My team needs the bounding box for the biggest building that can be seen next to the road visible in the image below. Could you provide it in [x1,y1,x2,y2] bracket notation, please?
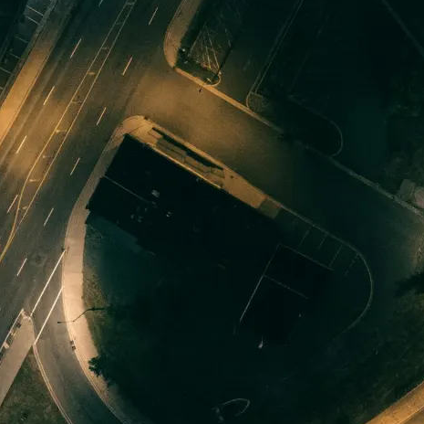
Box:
[87,134,262,267]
